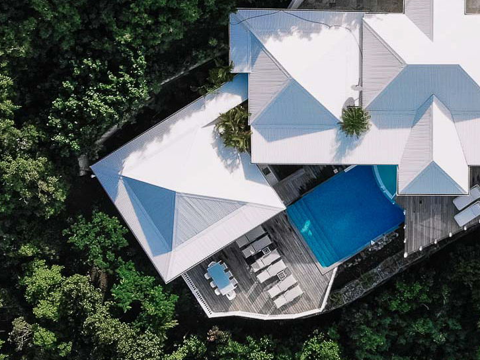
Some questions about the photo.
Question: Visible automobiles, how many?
zero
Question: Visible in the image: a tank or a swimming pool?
swimming pool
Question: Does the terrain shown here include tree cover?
Yes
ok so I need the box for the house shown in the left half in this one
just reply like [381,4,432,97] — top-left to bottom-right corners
[88,72,288,283]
